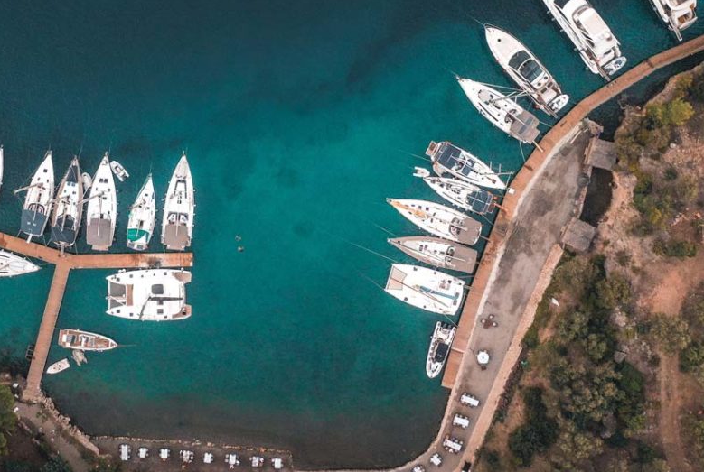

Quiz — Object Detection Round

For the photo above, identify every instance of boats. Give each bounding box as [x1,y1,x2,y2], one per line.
[546,95,568,113]
[471,16,573,117]
[72,350,88,366]
[76,141,122,251]
[541,0,621,85]
[414,167,431,178]
[105,266,193,323]
[14,139,56,248]
[47,359,71,375]
[429,323,454,380]
[127,158,159,254]
[455,77,545,162]
[639,0,701,41]
[159,144,198,251]
[43,145,85,256]
[111,162,127,181]
[0,250,51,279]
[432,164,445,177]
[409,140,521,192]
[347,240,475,325]
[83,173,92,189]
[384,197,490,255]
[361,225,484,274]
[603,57,628,74]
[422,176,509,228]
[54,328,118,353]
